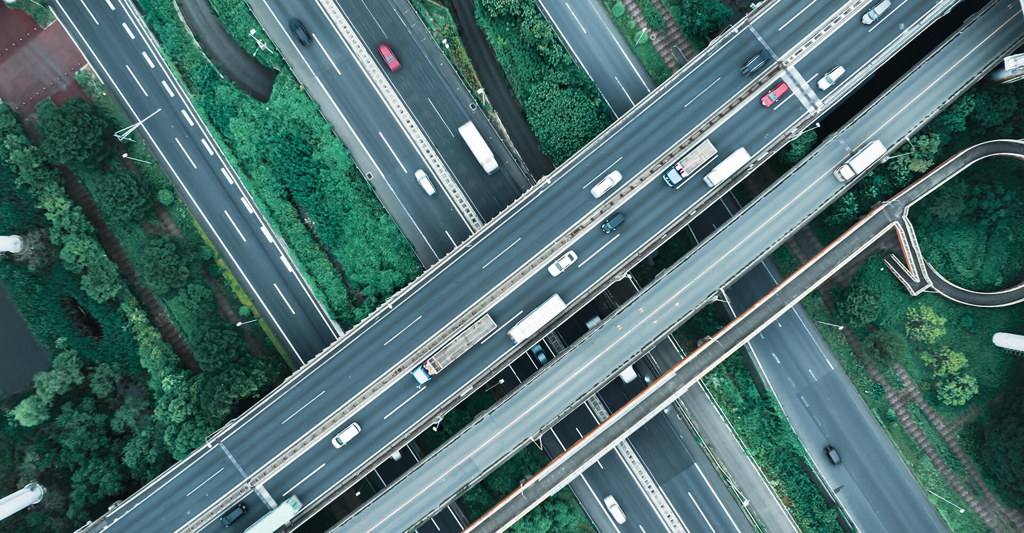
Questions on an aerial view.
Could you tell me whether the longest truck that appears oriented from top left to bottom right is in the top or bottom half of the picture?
top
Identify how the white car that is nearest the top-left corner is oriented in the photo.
diagonally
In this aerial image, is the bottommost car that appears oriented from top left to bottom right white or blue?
white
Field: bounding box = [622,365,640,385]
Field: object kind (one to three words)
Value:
vehicle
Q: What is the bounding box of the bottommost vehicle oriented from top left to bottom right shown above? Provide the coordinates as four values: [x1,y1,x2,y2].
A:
[605,494,628,524]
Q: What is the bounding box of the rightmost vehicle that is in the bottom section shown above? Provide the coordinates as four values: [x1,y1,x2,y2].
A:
[822,442,843,468]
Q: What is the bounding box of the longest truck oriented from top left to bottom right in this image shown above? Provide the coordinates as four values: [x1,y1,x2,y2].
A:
[456,119,502,178]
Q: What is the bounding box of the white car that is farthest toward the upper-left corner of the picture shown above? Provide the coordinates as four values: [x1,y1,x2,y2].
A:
[415,169,437,196]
